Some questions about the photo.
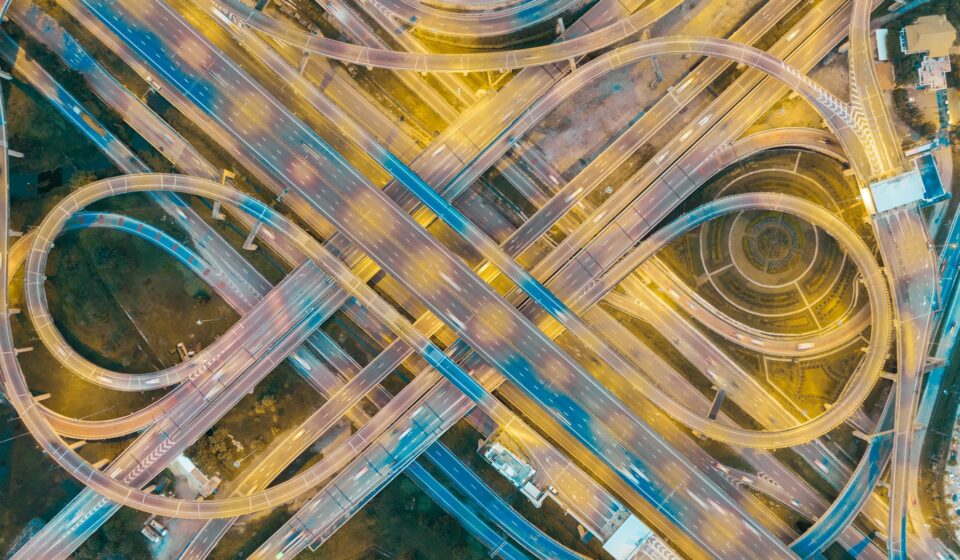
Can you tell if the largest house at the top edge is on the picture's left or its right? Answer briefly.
right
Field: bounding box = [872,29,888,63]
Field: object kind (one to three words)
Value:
shed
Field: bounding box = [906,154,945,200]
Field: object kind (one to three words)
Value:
building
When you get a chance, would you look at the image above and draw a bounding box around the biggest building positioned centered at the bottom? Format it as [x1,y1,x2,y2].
[485,440,536,489]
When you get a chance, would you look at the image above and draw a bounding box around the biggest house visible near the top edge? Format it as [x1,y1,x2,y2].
[900,12,958,59]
